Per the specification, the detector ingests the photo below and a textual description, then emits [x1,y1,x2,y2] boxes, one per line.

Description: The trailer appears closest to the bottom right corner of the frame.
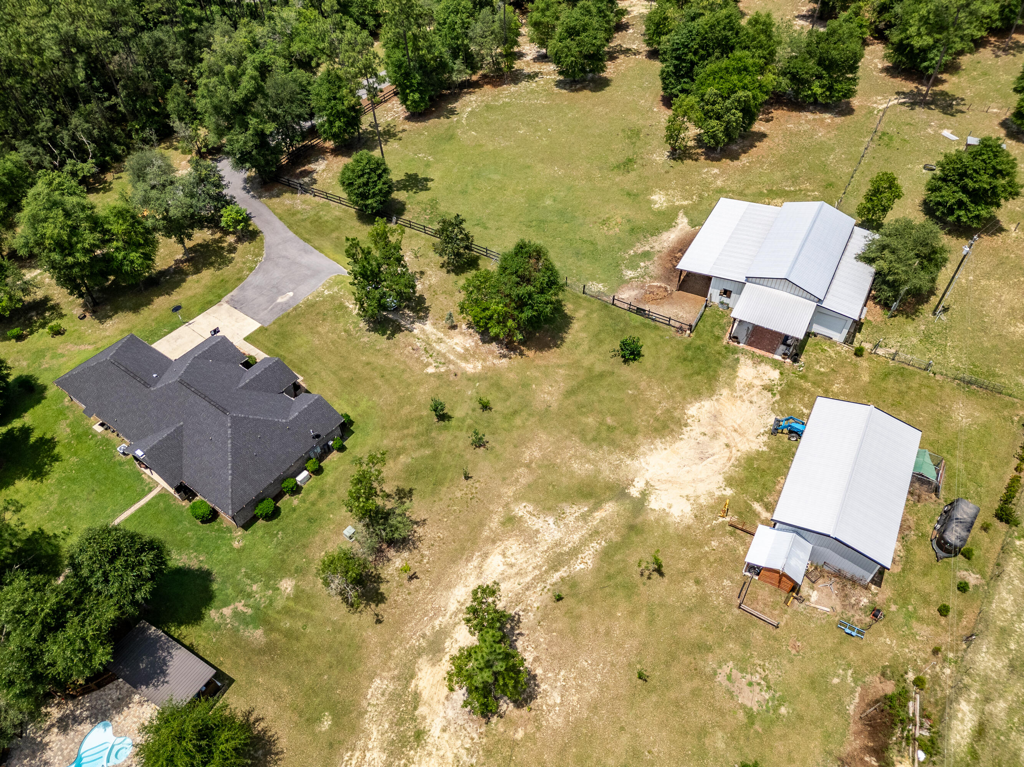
[932,491,989,564]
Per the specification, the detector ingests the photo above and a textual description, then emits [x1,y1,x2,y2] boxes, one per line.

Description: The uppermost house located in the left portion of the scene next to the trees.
[53,332,344,529]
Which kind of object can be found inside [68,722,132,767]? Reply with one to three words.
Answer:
swimming pool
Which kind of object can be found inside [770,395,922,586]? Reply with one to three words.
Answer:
barn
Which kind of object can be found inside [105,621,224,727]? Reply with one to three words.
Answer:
building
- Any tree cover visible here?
Yes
